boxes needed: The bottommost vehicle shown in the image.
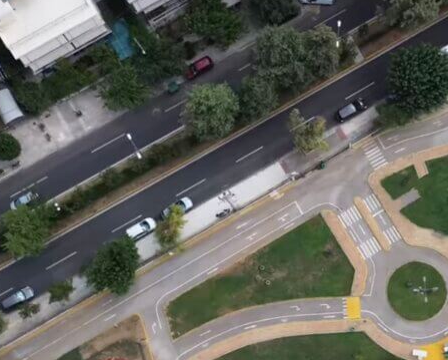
[2,286,36,311]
